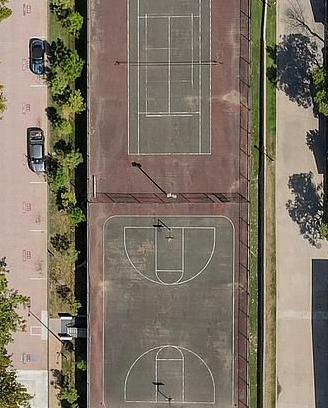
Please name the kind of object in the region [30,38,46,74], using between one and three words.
car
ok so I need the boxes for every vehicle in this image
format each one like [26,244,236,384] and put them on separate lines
[30,38,46,74]
[28,130,45,172]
